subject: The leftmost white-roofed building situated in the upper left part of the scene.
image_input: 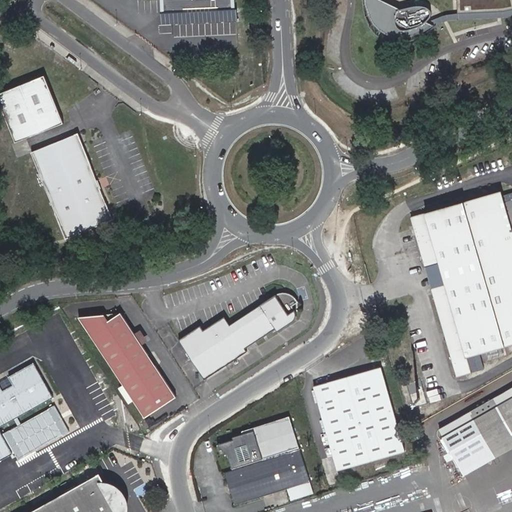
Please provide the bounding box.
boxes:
[0,76,62,143]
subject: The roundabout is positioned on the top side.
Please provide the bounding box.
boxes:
[205,76,354,257]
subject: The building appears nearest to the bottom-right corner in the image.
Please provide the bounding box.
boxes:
[438,388,512,477]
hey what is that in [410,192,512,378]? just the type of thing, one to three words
building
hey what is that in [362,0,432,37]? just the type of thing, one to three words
building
